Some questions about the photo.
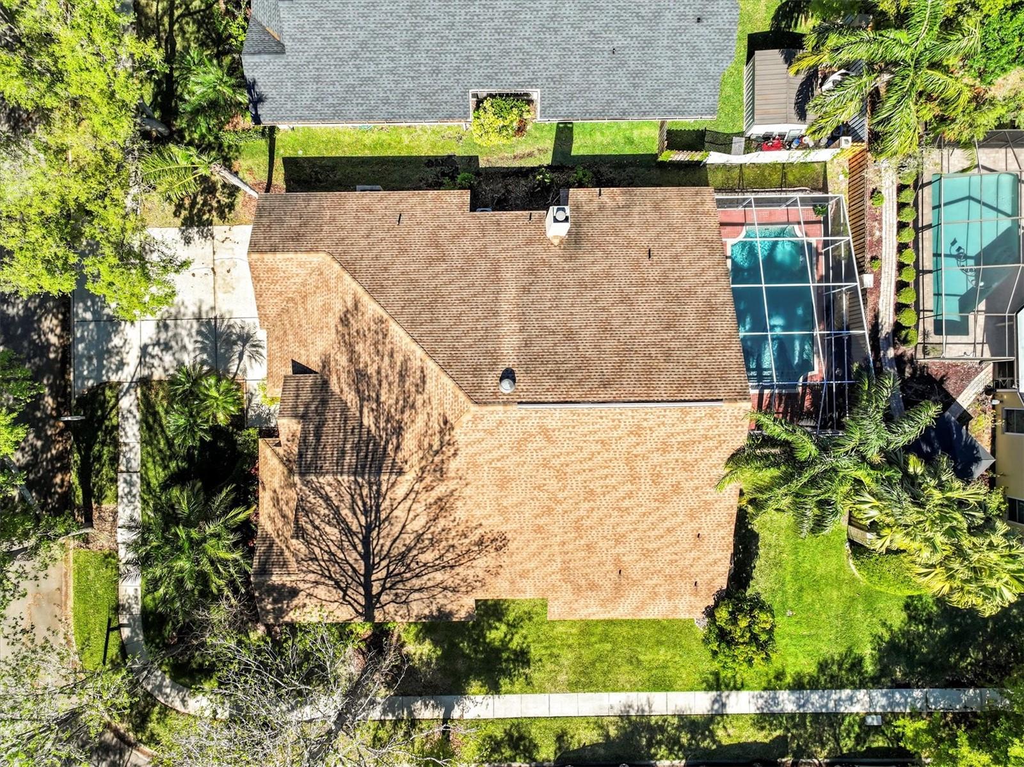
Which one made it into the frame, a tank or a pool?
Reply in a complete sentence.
I can see a pool in this picture.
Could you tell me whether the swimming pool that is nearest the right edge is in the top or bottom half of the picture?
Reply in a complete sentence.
The swimming pool that is nearest the right edge is in the top half of the image.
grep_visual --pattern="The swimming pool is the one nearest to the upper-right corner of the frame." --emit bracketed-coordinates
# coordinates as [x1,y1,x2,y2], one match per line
[933,170,1022,338]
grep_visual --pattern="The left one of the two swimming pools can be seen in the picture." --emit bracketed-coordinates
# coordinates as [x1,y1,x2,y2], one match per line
[726,220,821,395]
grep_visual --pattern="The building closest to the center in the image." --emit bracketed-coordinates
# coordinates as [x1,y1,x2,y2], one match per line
[248,187,750,623]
